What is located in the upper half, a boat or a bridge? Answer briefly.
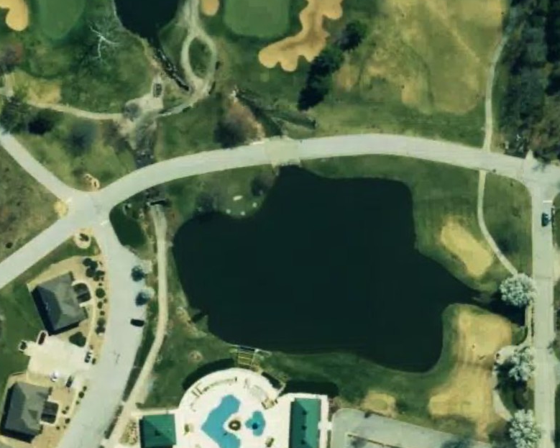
bridge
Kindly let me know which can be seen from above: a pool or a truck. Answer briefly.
pool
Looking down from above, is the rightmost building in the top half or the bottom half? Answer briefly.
bottom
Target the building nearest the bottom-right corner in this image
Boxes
[291,399,321,448]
